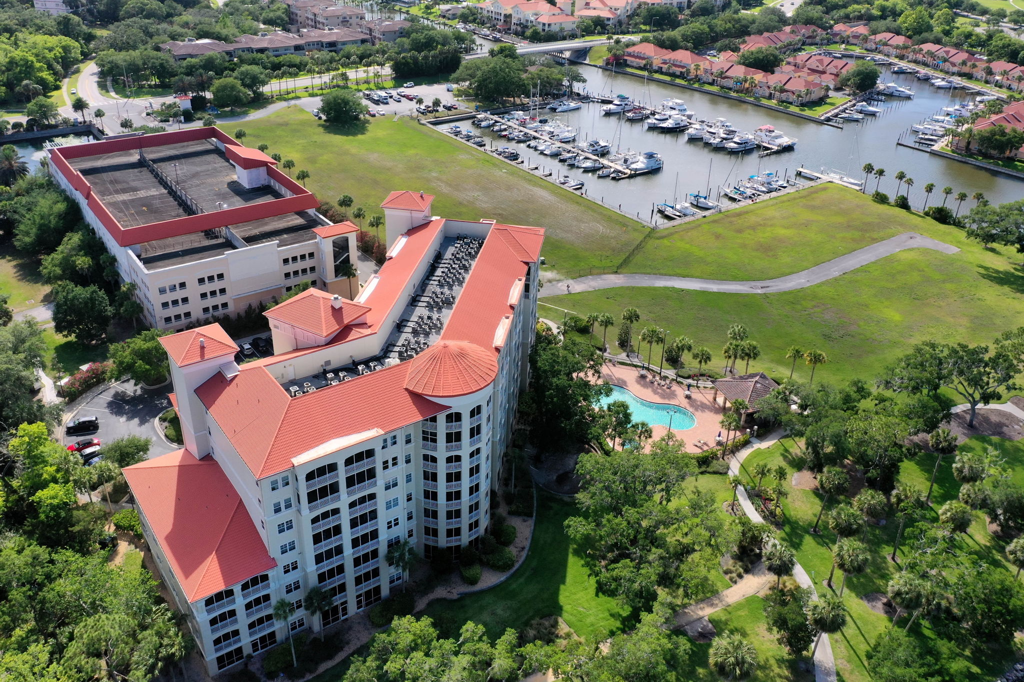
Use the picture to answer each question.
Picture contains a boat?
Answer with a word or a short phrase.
Yes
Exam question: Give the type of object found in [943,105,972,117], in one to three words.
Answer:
boat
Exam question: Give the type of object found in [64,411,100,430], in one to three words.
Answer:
car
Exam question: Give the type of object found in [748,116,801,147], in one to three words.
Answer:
boat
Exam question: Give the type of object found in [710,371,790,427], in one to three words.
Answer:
building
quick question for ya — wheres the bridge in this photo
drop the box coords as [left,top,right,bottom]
[461,36,667,66]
